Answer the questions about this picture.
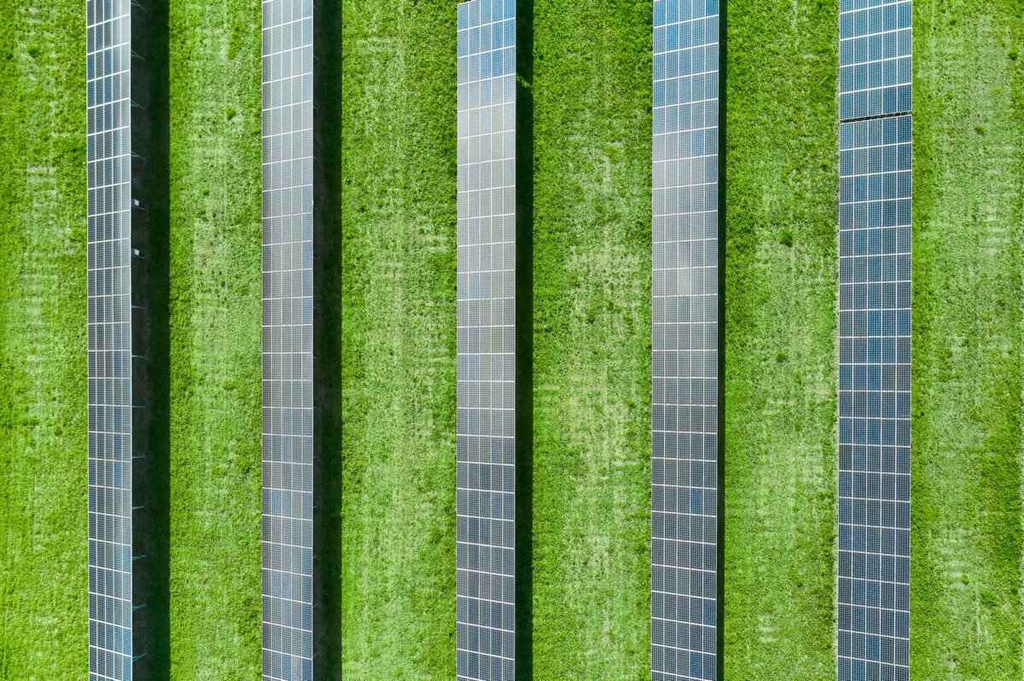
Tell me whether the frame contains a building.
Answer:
No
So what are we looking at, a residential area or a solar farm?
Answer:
solar farm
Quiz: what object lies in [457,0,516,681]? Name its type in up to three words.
solar array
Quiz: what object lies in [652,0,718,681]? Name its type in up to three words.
solar array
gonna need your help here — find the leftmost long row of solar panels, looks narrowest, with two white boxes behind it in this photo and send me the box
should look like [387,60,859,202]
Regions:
[87,0,145,681]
